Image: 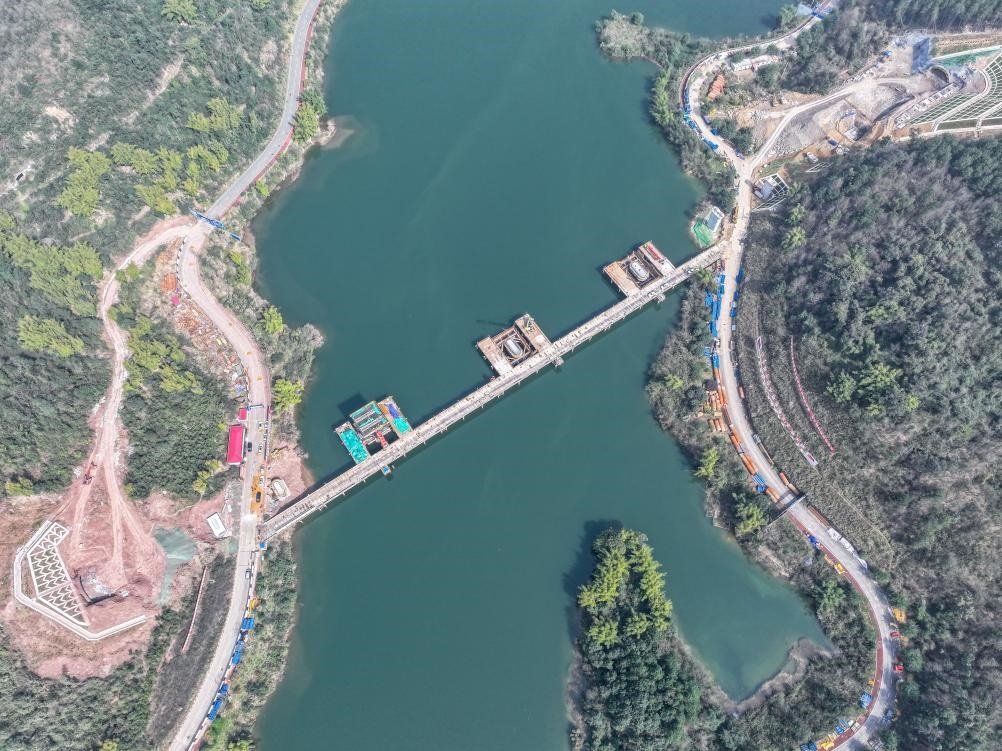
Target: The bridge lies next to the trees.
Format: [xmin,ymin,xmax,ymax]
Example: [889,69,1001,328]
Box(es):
[253,242,730,542]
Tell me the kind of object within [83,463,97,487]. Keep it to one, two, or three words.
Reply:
vehicle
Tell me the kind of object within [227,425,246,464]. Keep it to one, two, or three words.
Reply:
building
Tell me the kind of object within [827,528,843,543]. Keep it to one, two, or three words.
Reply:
vehicle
